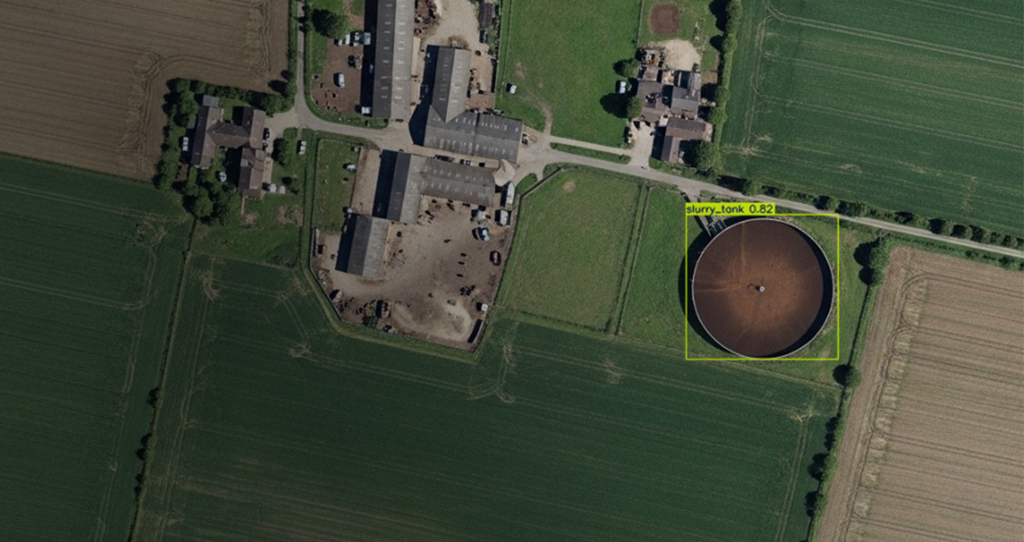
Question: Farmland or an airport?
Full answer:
What you see here is farmland.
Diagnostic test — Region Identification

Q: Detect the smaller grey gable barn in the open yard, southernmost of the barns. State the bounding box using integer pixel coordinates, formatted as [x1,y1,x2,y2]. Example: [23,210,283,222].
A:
[346,213,390,280]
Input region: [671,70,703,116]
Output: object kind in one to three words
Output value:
house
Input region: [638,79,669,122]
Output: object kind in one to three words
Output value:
house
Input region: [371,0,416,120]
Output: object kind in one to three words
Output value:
barn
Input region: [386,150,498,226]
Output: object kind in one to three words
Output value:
barn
